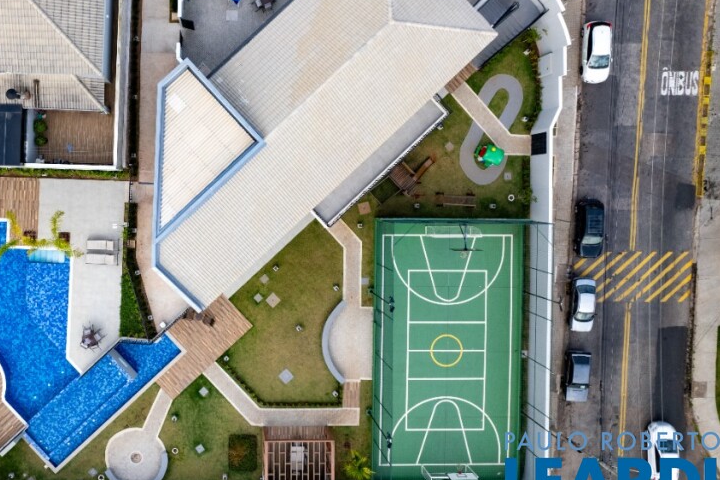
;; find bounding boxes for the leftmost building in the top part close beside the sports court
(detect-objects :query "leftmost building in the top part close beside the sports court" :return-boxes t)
[154,0,498,312]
